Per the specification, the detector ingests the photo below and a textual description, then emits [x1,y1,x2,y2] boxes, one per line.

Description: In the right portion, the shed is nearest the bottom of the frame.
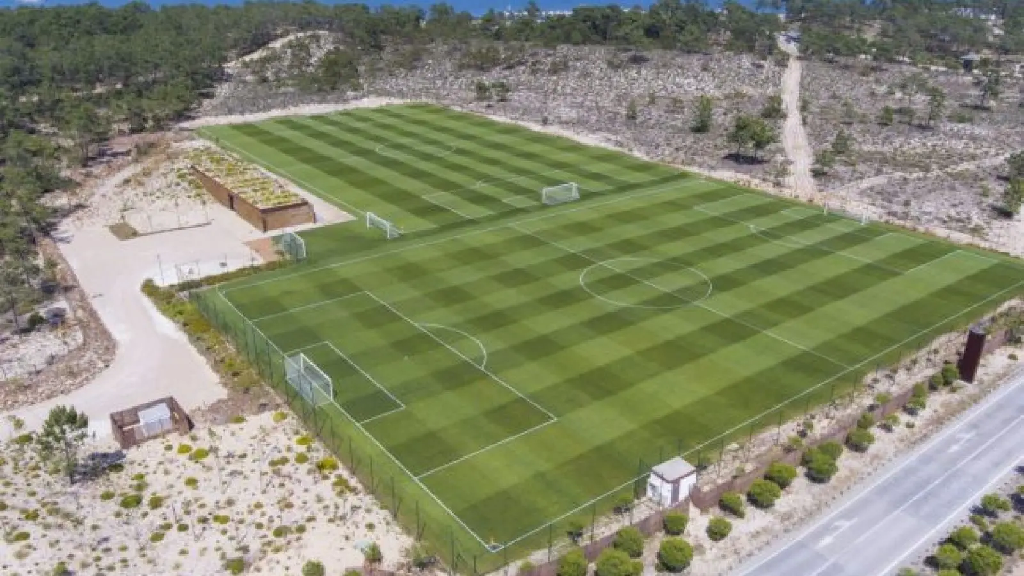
[644,455,700,507]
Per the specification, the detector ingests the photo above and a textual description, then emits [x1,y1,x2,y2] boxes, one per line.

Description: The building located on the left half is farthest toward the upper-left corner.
[186,155,315,232]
